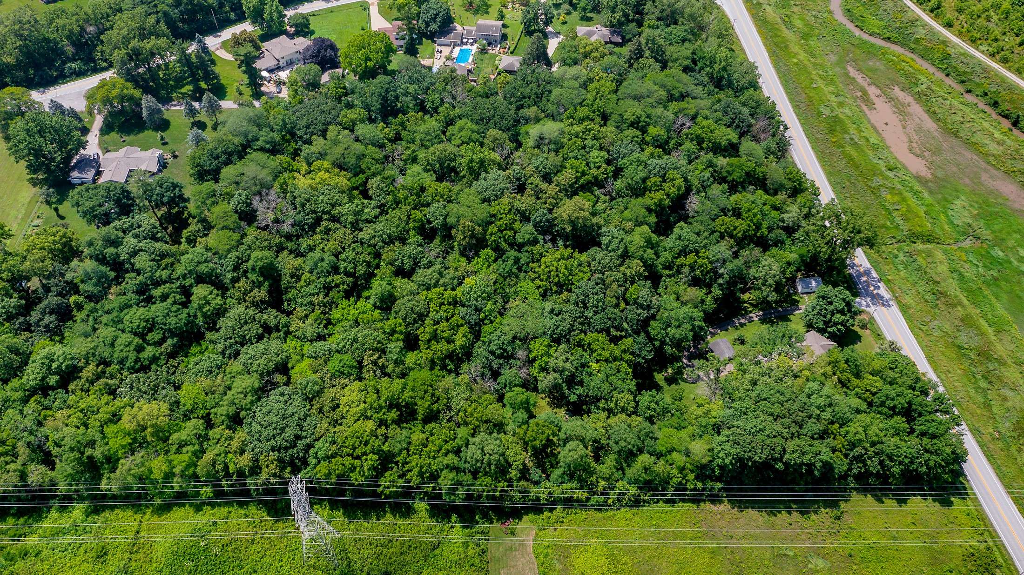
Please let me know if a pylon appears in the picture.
Yes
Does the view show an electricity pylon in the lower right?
No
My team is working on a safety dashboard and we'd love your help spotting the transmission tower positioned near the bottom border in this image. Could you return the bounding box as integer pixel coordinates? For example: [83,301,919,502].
[285,476,340,567]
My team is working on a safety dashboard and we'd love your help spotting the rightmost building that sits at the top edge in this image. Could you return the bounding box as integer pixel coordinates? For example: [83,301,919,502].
[577,23,625,52]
